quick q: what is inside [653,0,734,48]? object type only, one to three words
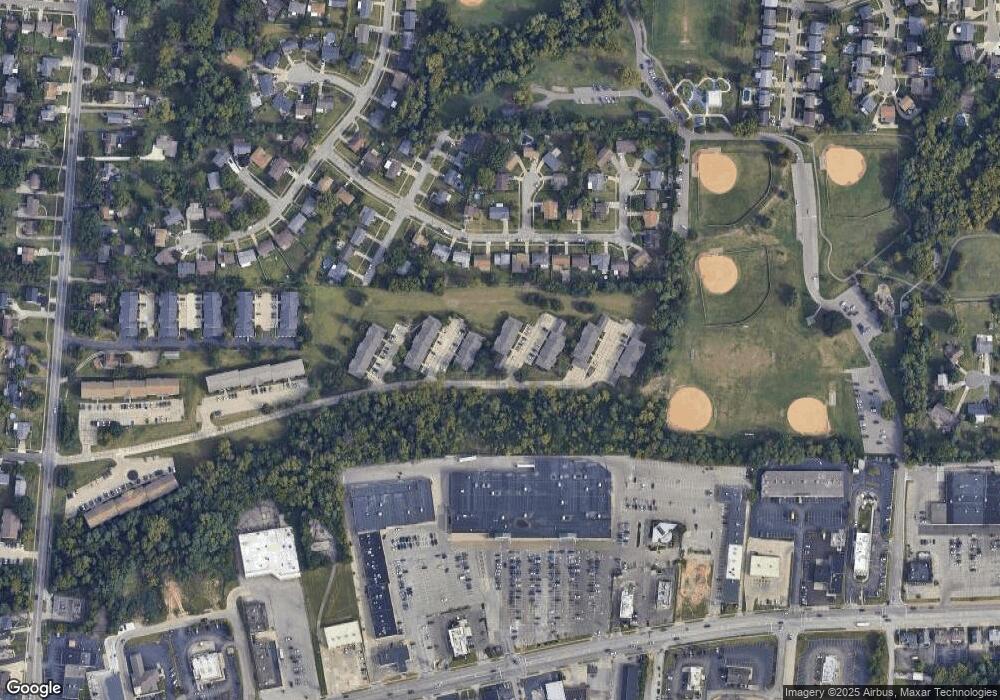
sports field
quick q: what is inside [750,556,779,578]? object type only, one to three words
building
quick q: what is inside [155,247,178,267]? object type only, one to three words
house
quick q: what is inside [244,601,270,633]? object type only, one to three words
shed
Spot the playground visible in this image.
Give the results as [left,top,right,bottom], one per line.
[681,82,728,111]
